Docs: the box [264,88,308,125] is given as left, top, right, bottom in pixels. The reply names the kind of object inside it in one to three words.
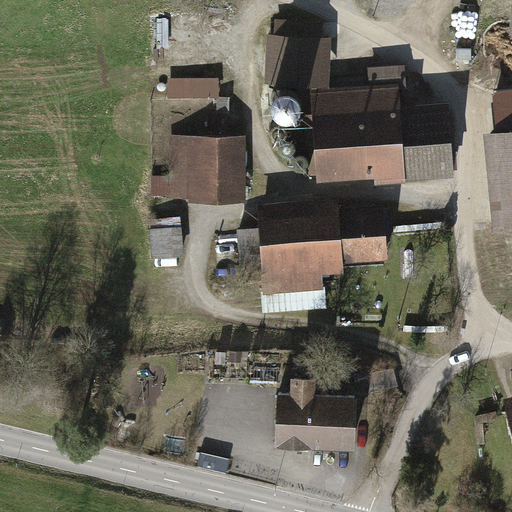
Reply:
silo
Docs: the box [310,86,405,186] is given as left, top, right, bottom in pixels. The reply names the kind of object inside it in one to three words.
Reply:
barn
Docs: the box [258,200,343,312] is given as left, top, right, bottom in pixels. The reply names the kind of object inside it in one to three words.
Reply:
house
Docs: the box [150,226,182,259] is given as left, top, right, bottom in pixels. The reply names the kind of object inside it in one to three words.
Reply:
shed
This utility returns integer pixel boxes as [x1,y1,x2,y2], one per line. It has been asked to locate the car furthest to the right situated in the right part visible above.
[448,350,471,364]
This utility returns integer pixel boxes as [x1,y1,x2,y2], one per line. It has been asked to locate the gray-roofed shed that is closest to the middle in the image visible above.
[237,227,260,264]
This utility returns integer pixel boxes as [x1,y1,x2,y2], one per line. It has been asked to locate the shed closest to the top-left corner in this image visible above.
[166,78,218,99]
